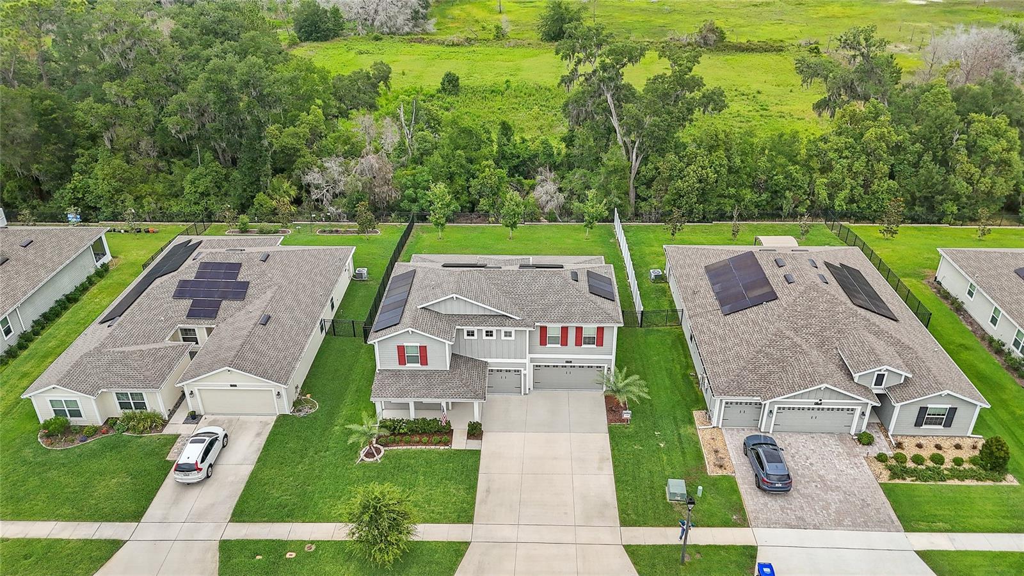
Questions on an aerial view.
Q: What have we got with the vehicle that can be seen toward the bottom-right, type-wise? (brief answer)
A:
car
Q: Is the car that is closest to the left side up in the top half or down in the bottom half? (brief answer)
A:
bottom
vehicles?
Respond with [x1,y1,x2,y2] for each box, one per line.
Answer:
[744,436,795,495]
[170,427,227,485]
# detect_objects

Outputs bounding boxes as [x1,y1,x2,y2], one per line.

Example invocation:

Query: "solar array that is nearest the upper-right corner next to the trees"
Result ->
[704,250,777,313]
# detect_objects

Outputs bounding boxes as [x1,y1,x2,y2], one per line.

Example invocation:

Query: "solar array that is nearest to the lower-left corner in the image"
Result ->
[172,262,248,317]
